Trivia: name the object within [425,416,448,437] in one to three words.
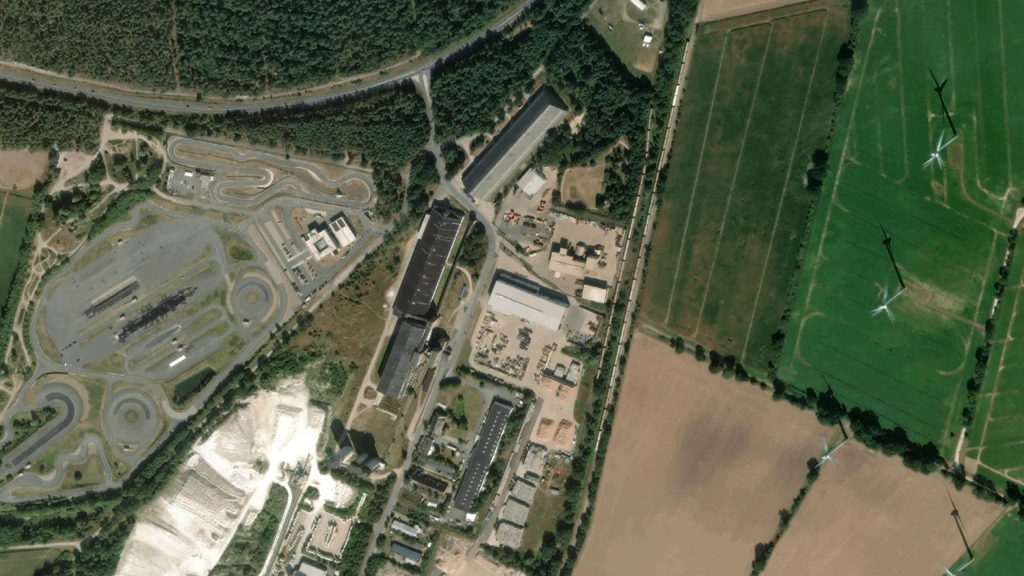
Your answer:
house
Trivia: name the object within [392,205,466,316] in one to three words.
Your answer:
building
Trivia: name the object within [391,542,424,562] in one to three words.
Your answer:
barn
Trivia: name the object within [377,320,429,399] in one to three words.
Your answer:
building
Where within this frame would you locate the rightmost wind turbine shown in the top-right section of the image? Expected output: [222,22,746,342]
[933,130,959,165]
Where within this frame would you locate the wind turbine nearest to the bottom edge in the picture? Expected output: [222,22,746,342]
[945,555,977,576]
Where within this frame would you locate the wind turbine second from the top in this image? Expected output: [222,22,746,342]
[881,285,908,324]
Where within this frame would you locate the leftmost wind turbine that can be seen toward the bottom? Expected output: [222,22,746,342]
[825,435,851,470]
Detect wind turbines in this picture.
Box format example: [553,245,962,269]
[933,130,959,165]
[881,285,908,324]
[945,555,977,576]
[825,435,851,470]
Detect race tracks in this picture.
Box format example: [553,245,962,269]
[164,133,379,211]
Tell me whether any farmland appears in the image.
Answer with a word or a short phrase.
Yes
